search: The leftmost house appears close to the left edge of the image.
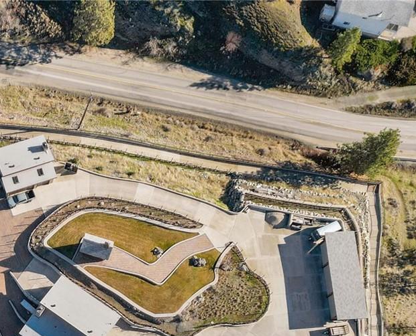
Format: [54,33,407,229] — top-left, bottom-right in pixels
[0,136,57,199]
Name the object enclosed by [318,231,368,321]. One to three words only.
building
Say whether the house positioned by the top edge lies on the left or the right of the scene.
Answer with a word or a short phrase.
right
